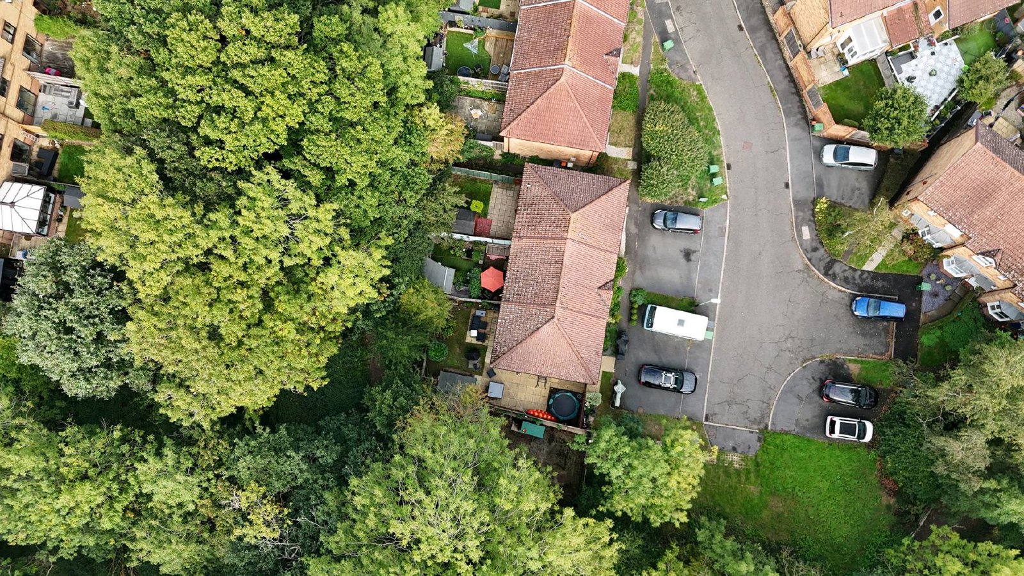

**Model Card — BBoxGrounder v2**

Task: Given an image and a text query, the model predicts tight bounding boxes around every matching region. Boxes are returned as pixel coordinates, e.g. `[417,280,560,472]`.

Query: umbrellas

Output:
[482,268,503,293]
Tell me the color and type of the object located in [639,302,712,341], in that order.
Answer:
white van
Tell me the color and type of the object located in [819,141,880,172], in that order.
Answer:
white car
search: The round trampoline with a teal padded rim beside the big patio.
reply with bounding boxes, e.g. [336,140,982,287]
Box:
[550,390,581,421]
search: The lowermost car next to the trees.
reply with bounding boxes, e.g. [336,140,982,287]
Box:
[823,414,874,445]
